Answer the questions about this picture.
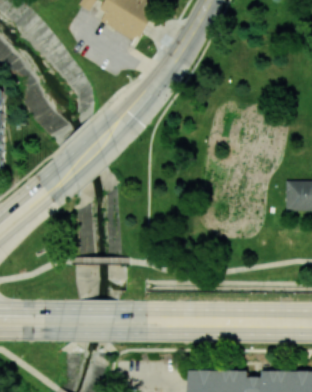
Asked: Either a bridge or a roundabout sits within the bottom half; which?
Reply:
bridge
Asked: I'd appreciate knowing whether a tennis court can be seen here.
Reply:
No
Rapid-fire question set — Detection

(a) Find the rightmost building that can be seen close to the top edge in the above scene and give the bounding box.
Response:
[102,0,154,40]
